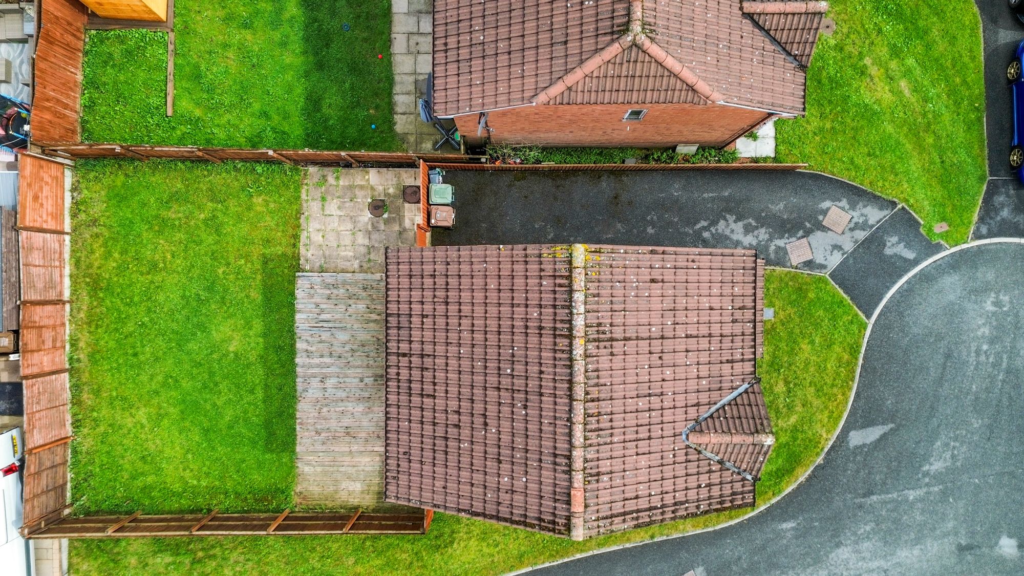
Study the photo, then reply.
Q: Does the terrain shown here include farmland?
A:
No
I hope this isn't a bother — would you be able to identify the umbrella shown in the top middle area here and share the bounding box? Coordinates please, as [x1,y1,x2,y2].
[420,102,460,149]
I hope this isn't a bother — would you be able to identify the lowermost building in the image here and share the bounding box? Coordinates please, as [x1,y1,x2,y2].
[382,240,777,538]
